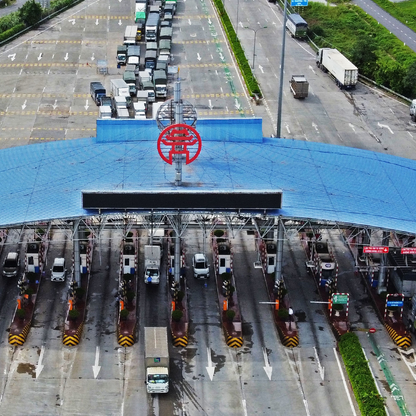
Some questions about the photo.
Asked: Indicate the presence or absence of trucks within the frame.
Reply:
Yes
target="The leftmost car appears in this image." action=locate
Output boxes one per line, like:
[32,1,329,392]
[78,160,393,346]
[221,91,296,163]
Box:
[1,246,23,275]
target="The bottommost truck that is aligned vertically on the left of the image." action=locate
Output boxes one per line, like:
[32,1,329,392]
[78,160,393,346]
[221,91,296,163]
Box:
[144,326,171,392]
